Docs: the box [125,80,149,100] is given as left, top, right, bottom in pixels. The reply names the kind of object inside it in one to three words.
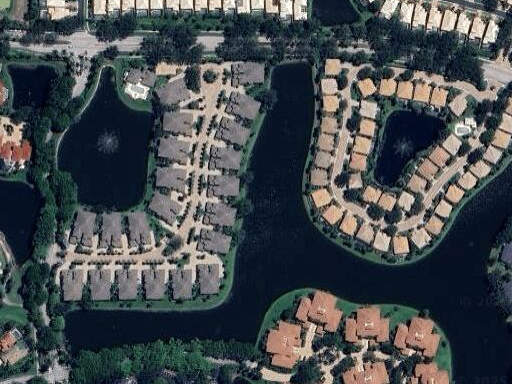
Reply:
swimming pool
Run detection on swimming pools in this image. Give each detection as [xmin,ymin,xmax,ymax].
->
[125,80,149,100]
[456,121,472,134]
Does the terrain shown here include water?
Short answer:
Yes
